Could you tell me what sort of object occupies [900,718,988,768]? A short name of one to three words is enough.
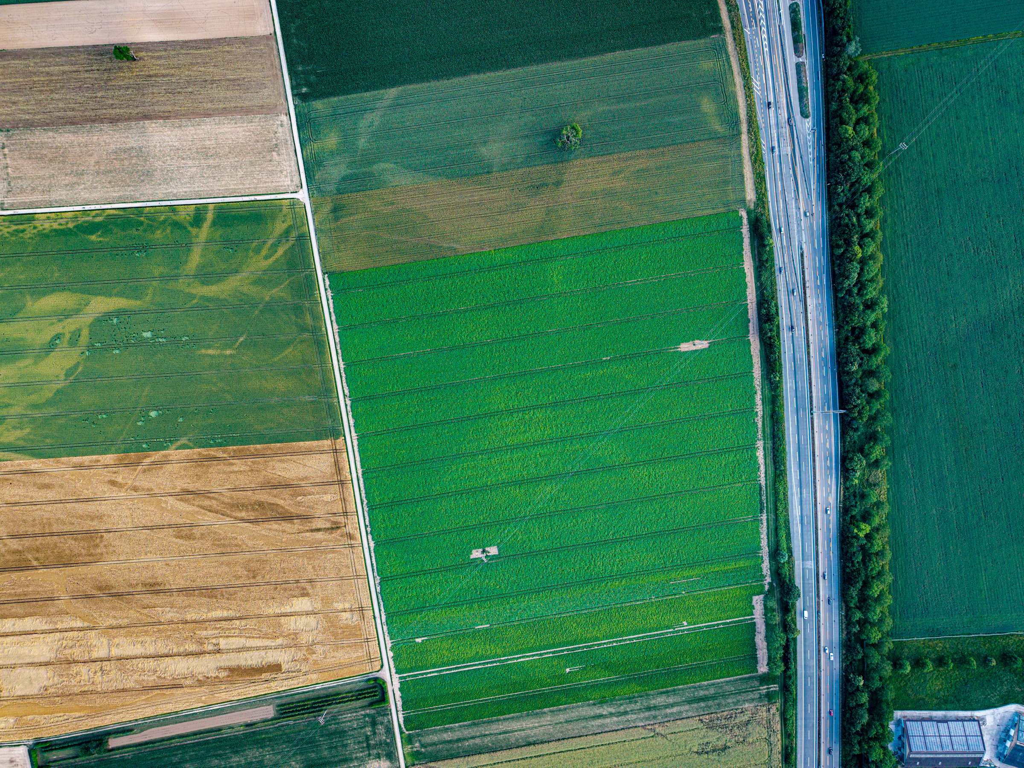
barn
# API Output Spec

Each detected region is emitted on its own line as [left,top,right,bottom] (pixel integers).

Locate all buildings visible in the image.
[998,711,1024,768]
[900,718,988,768]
